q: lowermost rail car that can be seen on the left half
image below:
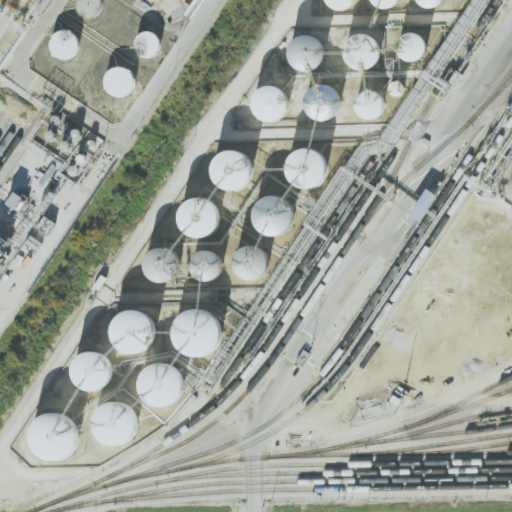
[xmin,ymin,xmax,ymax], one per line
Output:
[164,426,189,446]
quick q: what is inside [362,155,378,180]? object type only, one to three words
rail car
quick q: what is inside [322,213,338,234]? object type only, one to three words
rail car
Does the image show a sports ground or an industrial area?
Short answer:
industrial area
